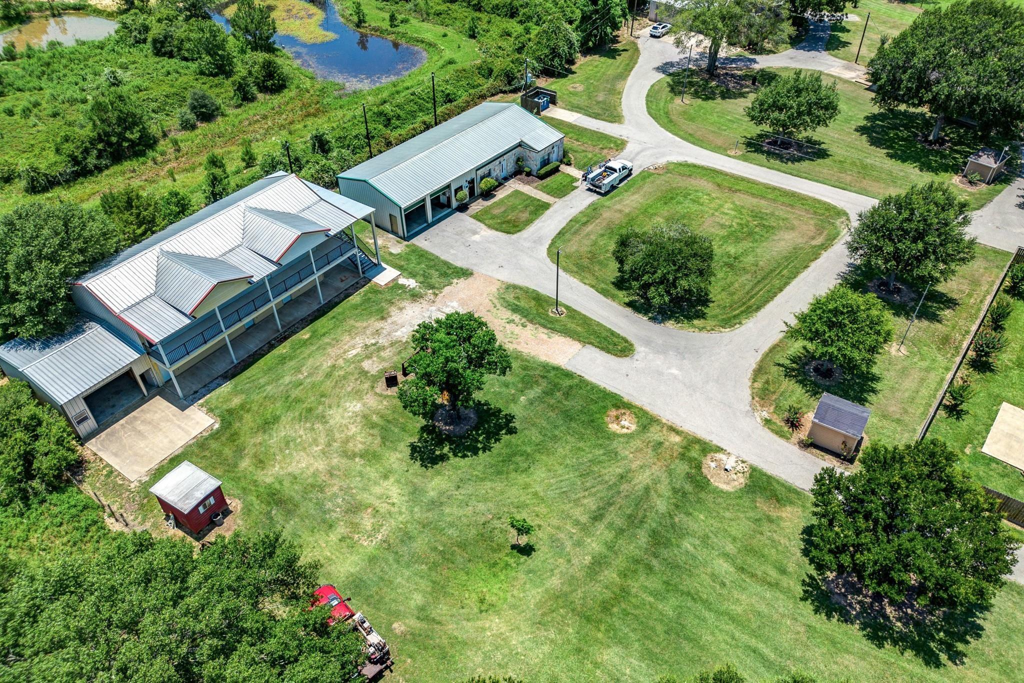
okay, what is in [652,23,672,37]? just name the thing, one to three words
car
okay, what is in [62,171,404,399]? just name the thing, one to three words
house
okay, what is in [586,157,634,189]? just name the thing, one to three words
truck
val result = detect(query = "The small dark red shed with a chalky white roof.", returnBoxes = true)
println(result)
[151,462,229,534]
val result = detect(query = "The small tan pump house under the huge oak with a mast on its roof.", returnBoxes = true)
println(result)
[963,146,1011,185]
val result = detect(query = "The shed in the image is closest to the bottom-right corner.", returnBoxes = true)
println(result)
[809,394,874,453]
